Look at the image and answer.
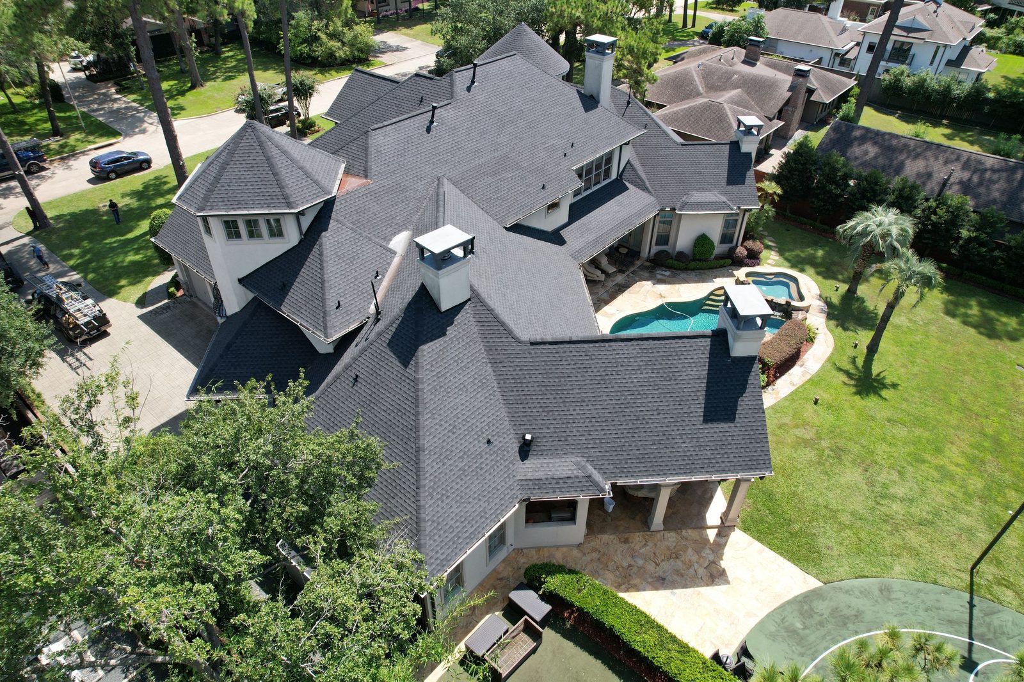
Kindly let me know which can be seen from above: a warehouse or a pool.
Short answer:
pool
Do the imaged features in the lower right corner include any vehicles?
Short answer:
No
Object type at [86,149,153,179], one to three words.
car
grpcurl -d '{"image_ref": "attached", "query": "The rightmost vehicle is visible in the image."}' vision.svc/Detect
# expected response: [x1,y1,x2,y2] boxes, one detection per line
[692,21,719,39]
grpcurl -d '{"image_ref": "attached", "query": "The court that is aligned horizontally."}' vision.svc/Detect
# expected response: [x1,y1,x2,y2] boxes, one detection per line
[724,578,1024,682]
